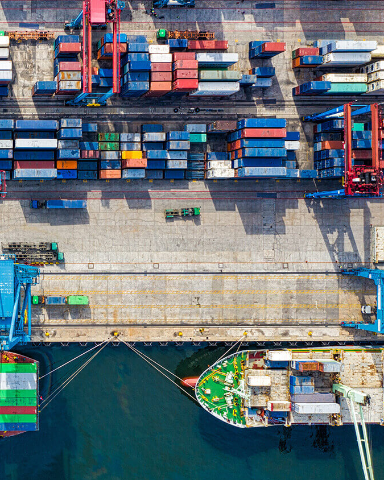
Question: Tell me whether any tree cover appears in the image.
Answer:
No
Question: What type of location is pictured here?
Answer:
port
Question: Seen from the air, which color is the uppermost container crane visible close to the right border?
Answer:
red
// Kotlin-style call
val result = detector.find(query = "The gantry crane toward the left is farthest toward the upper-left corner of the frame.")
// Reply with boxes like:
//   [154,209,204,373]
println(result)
[60,0,125,109]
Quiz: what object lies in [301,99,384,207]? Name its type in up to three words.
container crane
